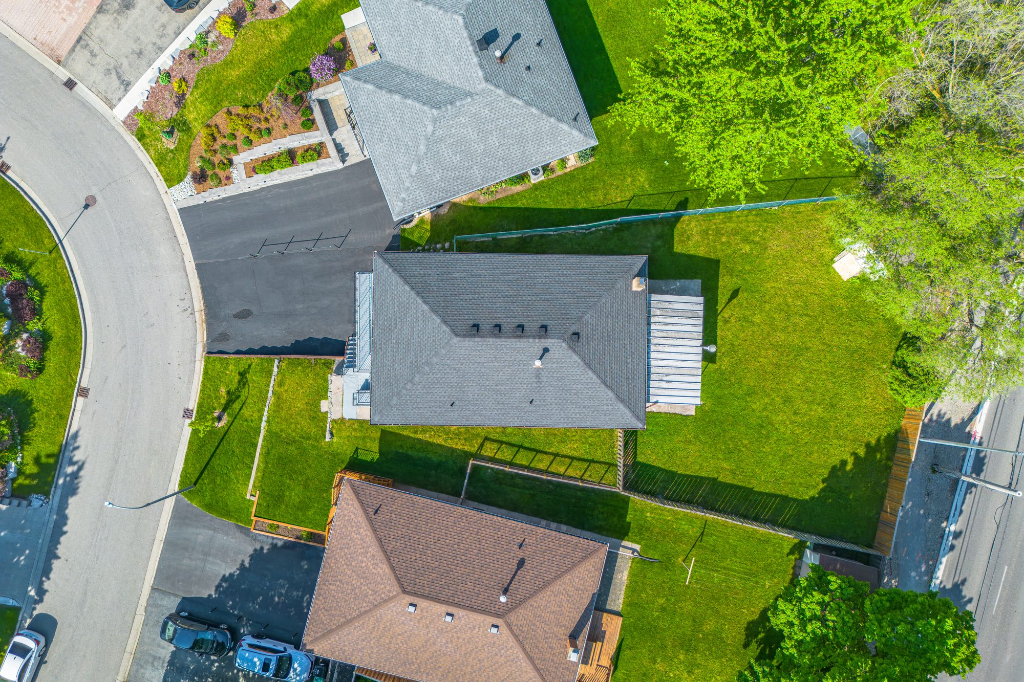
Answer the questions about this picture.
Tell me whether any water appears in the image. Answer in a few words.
No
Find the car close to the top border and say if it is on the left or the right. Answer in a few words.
left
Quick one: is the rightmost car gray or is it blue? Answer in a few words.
blue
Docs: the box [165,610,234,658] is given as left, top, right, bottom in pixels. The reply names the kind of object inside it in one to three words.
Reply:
car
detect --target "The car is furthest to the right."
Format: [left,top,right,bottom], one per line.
[238,633,314,682]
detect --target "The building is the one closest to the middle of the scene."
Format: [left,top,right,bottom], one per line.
[368,250,650,431]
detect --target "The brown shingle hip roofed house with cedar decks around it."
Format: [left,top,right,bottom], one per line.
[300,475,611,682]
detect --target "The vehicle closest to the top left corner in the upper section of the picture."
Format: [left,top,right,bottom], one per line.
[170,0,212,21]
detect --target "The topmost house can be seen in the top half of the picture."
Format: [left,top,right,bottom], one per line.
[338,0,600,223]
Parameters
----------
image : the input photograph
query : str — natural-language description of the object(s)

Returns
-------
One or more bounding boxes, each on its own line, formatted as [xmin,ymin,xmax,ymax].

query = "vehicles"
[170,0,212,21]
[165,610,234,658]
[238,633,314,682]
[0,631,46,682]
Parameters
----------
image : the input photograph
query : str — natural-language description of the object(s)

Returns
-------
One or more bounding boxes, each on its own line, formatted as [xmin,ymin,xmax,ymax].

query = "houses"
[368,250,650,431]
[300,475,611,682]
[338,0,600,223]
